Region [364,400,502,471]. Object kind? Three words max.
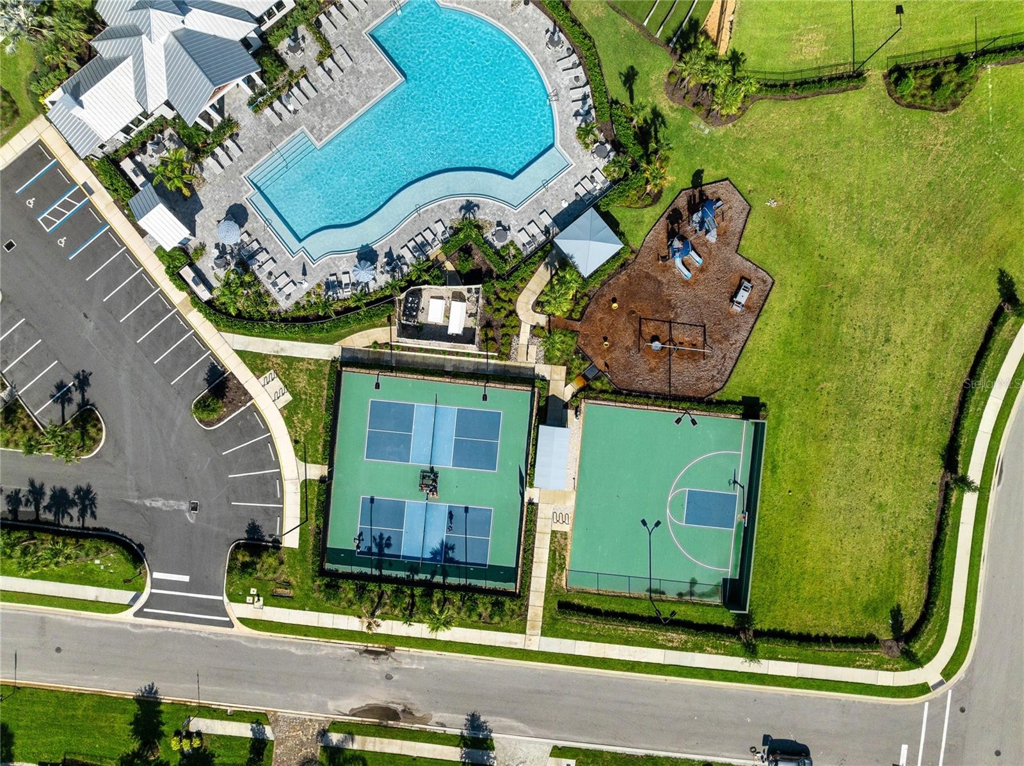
sports court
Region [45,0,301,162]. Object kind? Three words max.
building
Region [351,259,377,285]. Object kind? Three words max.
umbrella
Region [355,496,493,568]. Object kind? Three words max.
sports court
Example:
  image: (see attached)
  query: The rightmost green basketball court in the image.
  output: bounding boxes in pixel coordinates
[568,403,758,602]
